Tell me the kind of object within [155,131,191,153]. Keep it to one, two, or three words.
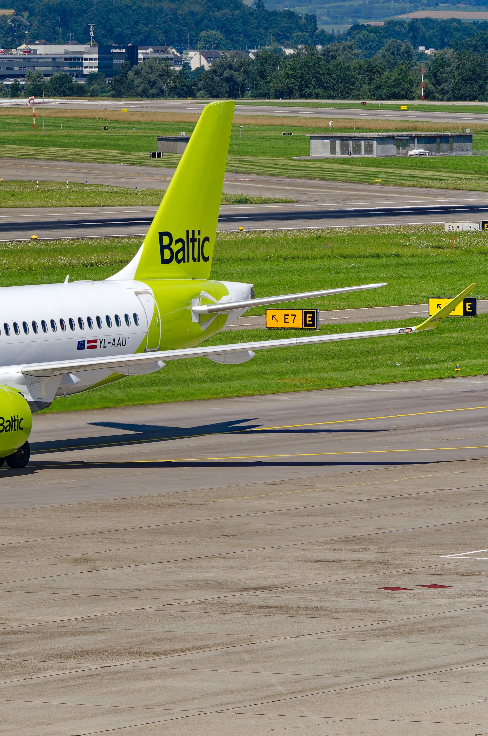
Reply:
building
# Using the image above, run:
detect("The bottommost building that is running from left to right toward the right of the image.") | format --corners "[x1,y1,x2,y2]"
[301,127,476,157]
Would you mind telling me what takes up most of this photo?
paved ground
